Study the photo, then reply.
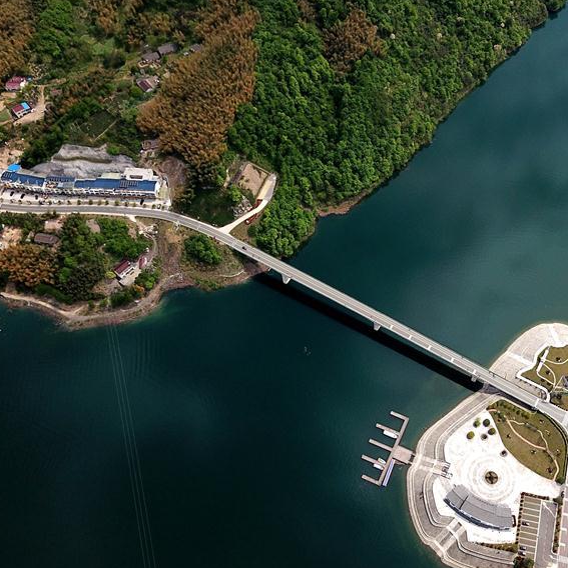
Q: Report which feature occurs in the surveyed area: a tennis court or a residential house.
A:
residential house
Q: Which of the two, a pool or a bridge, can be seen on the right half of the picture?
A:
bridge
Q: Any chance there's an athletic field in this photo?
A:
No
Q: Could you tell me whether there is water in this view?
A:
Yes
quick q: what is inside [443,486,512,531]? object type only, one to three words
building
